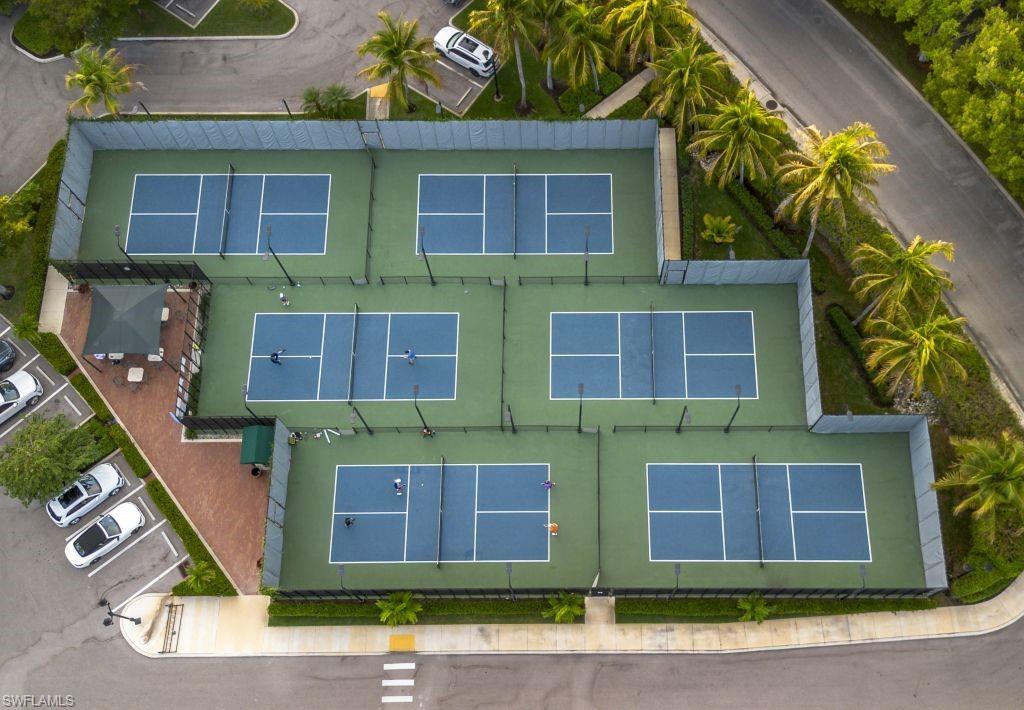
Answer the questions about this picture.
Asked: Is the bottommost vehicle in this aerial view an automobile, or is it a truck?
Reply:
automobile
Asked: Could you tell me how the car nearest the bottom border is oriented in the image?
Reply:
at an angle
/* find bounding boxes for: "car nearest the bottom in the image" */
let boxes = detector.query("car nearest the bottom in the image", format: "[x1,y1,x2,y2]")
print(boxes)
[64,504,147,571]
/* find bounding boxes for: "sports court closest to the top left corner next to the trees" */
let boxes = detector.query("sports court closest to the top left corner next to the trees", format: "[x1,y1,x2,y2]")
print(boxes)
[74,150,371,284]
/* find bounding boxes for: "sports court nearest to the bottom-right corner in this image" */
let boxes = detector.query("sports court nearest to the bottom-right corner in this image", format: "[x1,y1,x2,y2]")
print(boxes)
[599,431,927,598]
